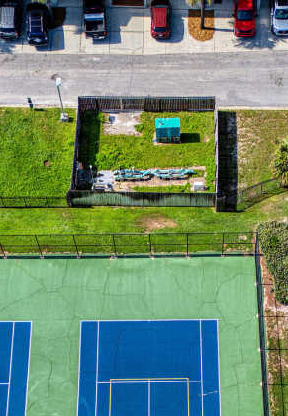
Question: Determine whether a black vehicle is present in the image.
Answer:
Yes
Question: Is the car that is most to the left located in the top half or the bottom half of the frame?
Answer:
top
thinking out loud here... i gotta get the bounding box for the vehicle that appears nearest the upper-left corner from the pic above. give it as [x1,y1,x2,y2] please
[0,1,23,41]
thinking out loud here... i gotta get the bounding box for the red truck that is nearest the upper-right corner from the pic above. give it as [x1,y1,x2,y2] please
[230,0,255,37]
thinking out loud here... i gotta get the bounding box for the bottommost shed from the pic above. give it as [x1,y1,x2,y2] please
[156,117,179,141]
